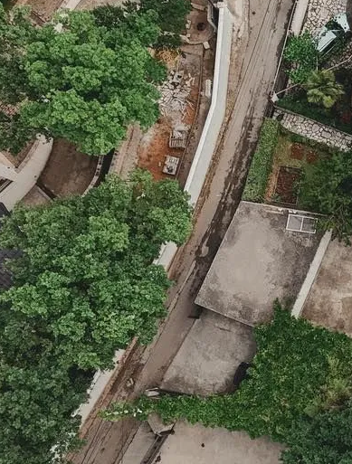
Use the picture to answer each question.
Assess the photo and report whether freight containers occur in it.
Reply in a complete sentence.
No, I can see no freight container in this picture.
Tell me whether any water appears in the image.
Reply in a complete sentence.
No, no water is visible.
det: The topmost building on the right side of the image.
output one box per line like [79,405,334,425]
[195,200,329,327]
